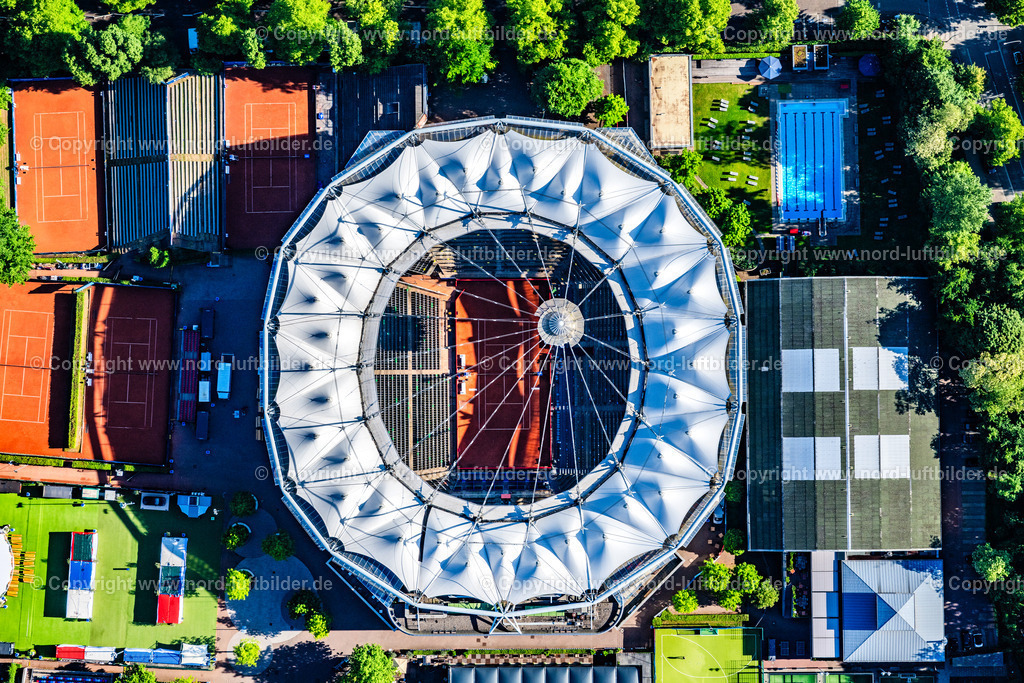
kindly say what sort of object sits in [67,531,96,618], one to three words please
tent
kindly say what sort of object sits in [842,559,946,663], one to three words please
building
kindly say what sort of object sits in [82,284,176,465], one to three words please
tennis court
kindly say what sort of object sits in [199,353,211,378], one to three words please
vehicle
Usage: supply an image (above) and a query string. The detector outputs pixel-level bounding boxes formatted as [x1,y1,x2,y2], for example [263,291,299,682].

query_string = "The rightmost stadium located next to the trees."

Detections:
[257,111,747,635]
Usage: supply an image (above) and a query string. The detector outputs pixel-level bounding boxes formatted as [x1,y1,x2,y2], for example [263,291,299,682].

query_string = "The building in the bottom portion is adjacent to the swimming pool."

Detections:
[745,276,943,552]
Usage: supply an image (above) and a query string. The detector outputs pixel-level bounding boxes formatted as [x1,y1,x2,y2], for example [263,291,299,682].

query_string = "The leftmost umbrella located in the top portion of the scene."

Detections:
[758,56,781,79]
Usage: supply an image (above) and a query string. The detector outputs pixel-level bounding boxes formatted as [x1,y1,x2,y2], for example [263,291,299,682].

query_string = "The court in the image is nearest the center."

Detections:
[447,277,556,472]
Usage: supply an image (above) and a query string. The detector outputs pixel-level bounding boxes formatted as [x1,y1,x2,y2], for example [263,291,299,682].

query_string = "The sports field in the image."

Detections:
[654,628,762,683]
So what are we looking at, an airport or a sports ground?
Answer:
sports ground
